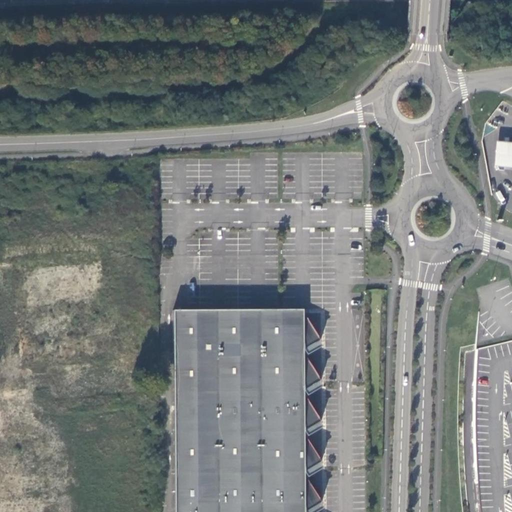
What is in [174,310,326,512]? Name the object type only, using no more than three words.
building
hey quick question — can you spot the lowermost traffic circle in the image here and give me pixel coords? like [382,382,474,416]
[400,186,466,252]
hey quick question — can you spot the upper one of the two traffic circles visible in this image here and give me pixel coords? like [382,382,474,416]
[380,69,446,135]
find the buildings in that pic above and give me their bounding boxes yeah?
[174,310,326,512]
[496,140,512,171]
